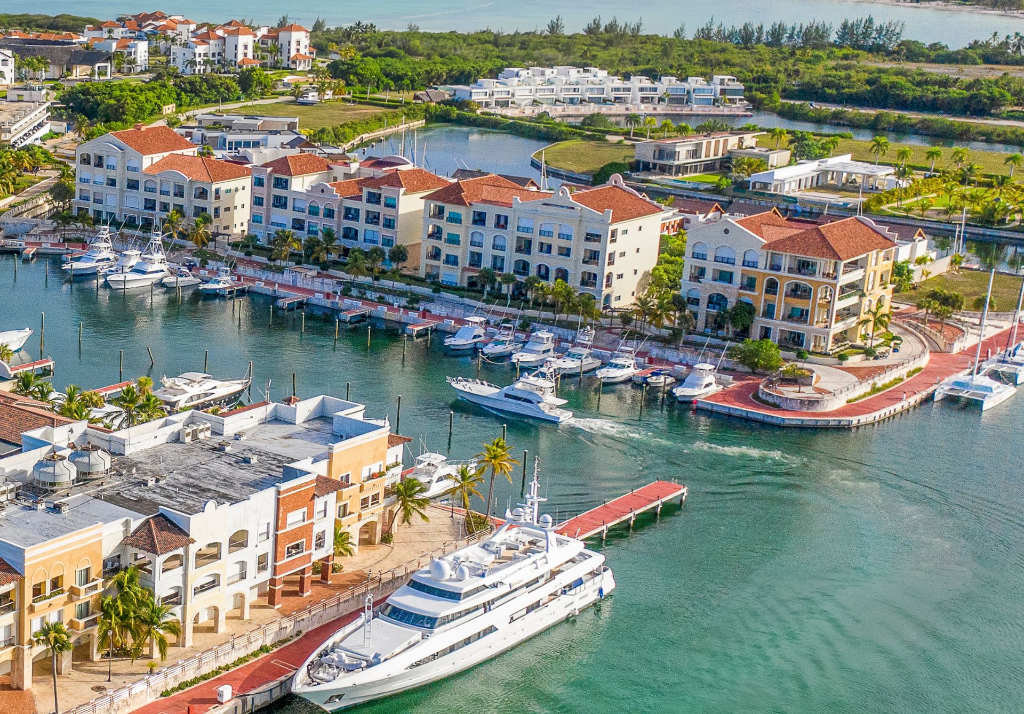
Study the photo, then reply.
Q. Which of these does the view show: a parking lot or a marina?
marina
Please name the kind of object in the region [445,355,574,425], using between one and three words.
boat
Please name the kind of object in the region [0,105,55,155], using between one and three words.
building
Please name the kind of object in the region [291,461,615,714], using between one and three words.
boat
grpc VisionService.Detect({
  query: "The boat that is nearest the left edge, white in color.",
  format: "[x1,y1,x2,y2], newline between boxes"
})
[0,320,29,348]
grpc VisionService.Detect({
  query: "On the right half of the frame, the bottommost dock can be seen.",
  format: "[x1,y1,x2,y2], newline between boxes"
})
[552,477,689,539]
